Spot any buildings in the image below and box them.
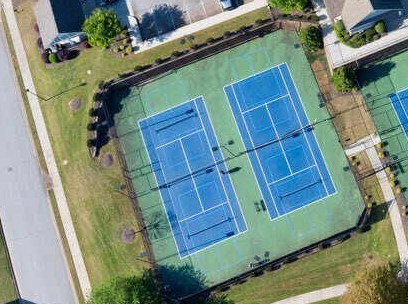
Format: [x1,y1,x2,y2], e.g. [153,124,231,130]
[324,0,404,35]
[34,0,90,48]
